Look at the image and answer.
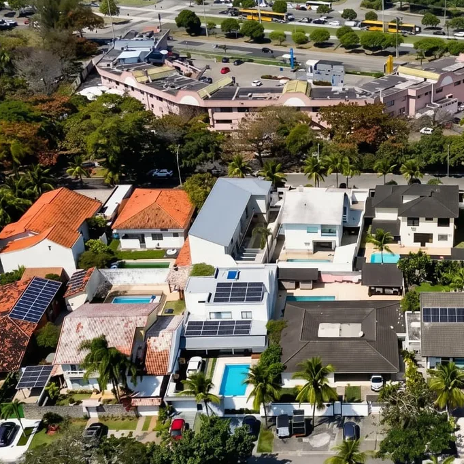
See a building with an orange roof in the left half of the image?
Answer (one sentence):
Yes, a building with an orange roof appears in the left half of the image.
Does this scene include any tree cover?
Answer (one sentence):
Yes, there's tree cover in this view.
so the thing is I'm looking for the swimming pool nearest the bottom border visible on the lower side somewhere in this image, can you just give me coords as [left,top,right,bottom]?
[216,362,253,398]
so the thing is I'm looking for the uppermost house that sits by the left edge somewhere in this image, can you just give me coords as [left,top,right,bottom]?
[0,187,103,273]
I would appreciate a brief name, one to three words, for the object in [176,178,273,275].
house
